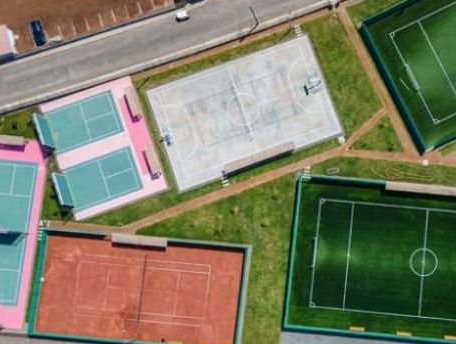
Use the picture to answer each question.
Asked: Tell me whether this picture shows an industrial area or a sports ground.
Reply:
sports ground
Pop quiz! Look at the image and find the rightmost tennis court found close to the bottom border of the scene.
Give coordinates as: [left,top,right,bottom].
[32,233,247,344]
